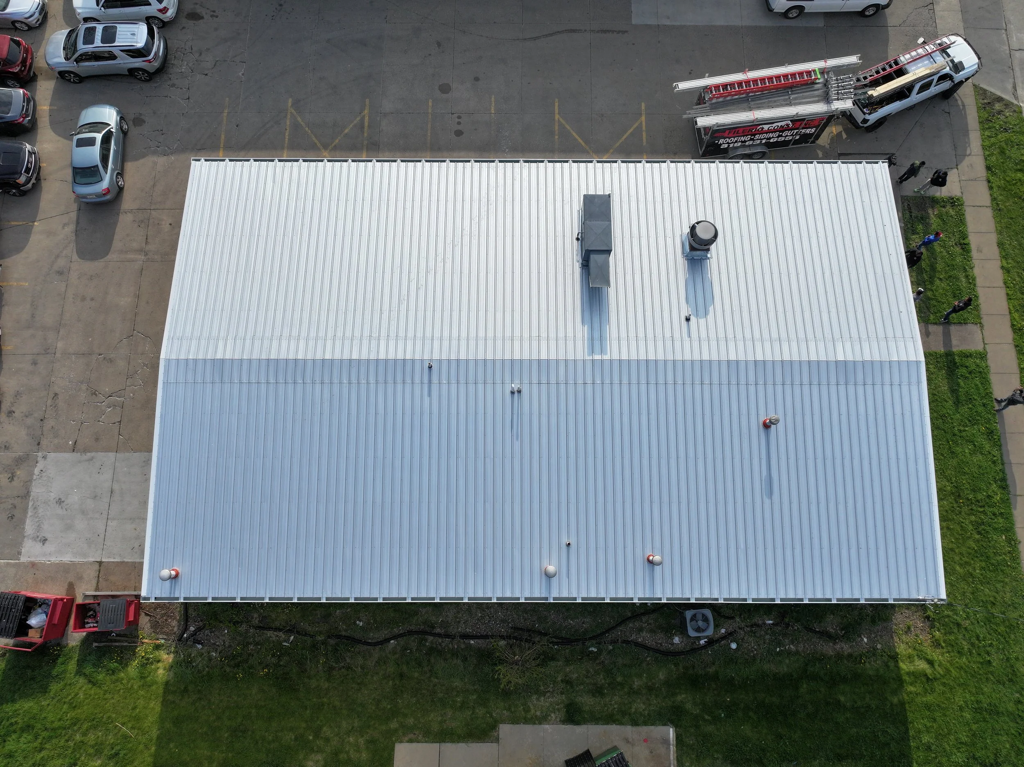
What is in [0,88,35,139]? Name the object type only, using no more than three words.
car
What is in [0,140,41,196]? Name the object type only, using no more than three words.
car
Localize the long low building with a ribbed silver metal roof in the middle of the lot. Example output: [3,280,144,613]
[139,157,948,603]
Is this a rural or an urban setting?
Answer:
urban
